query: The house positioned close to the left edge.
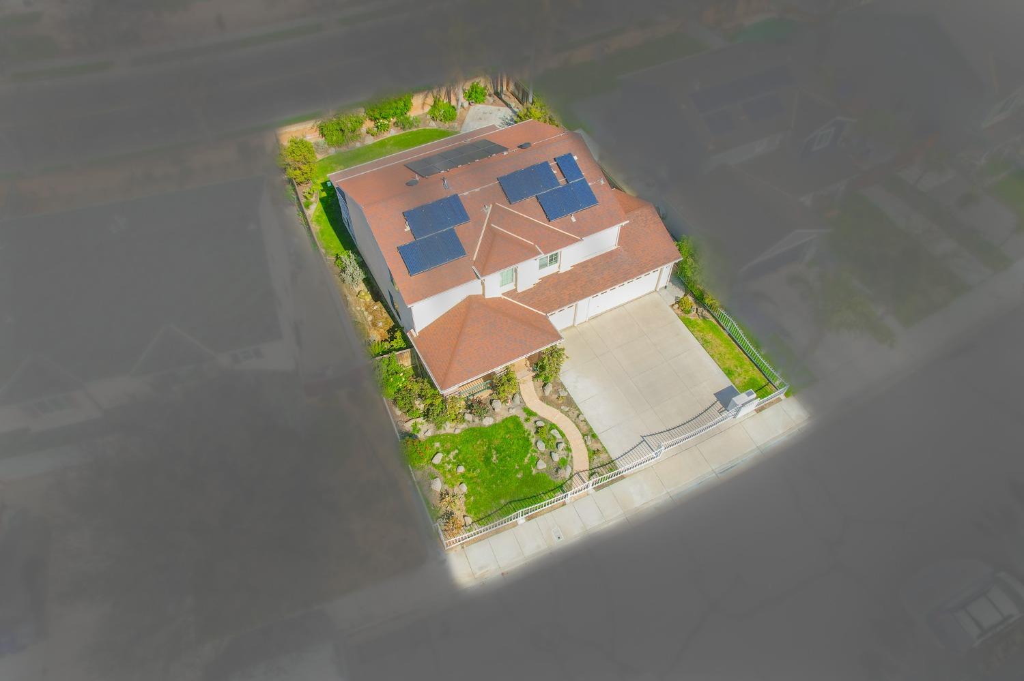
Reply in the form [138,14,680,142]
[0,176,290,458]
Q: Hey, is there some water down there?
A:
No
